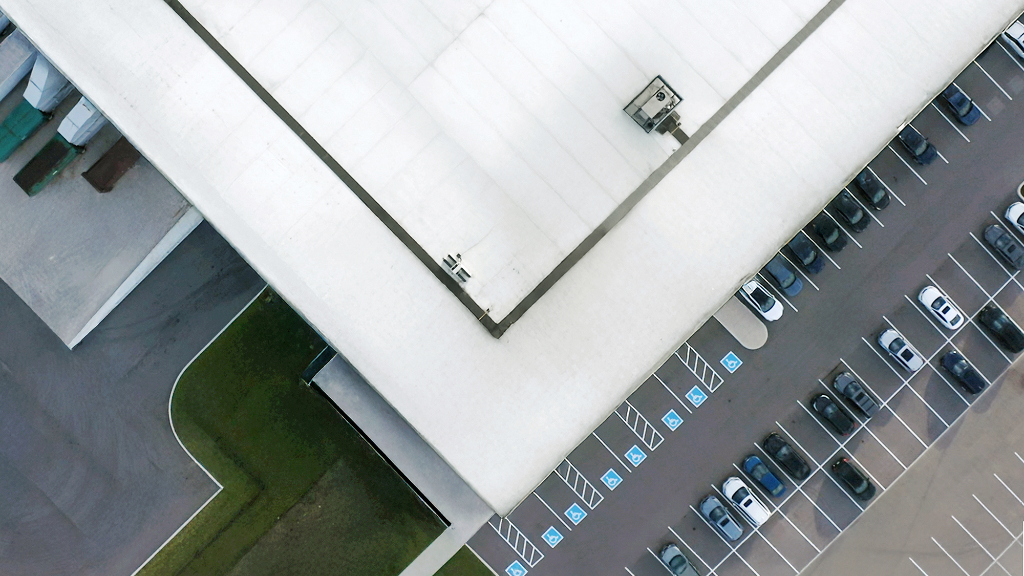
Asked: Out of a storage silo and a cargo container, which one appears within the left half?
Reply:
cargo container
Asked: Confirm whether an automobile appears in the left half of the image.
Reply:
No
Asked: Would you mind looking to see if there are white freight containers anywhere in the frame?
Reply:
No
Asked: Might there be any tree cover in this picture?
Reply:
No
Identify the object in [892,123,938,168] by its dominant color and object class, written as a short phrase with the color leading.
black car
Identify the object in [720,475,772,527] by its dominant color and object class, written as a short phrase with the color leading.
white car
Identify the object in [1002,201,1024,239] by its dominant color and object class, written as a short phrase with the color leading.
white car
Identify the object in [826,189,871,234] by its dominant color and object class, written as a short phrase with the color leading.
black car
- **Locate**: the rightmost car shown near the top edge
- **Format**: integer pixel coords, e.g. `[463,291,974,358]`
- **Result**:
[1001,21,1024,61]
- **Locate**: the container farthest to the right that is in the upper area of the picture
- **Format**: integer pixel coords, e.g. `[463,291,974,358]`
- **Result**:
[80,132,144,196]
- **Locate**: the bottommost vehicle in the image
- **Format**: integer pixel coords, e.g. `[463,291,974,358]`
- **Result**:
[658,540,706,576]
